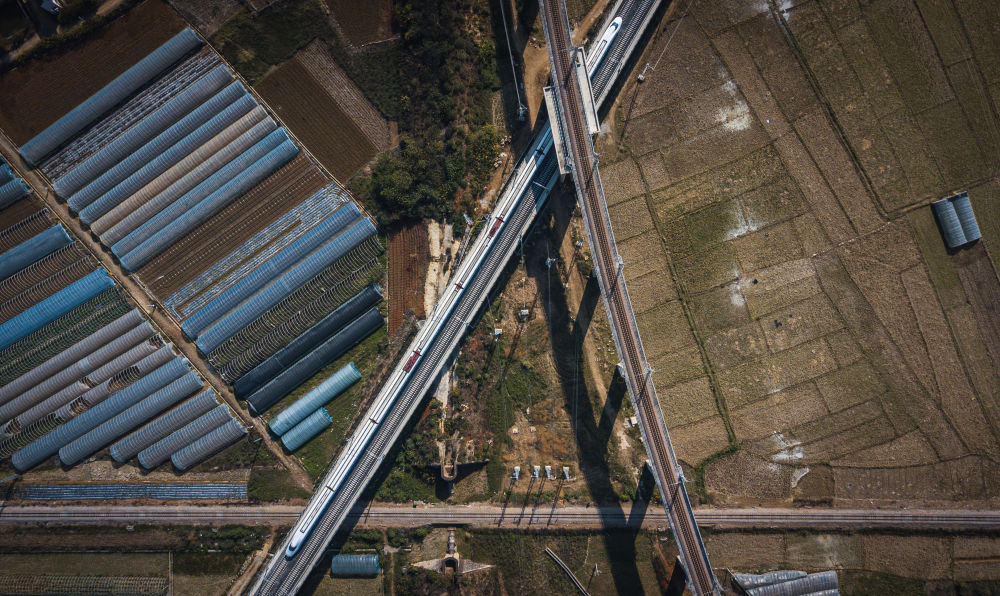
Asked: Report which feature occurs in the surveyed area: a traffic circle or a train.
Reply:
train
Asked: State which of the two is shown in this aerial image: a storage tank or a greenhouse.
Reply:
greenhouse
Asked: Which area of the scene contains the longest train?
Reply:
center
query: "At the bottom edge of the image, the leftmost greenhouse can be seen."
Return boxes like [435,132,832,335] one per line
[329,552,382,575]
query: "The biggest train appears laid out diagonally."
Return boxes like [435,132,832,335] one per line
[293,10,626,550]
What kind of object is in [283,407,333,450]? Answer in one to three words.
greenhouse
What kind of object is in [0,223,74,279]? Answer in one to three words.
greenhouse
